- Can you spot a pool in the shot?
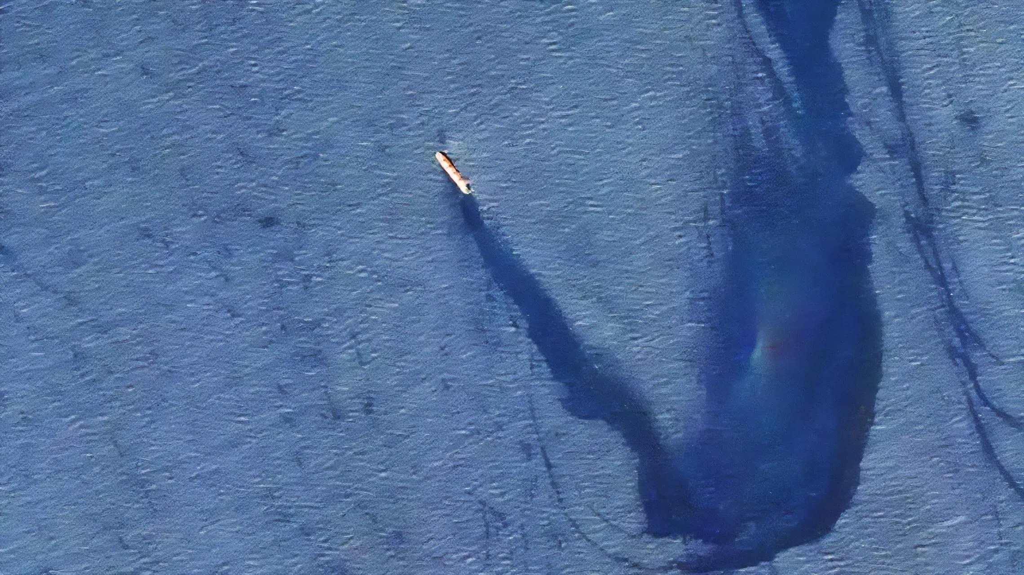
No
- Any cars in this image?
No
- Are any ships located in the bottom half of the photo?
No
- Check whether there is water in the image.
Yes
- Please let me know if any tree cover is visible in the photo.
No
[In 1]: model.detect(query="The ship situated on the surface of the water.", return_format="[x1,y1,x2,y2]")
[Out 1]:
[437,152,471,195]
